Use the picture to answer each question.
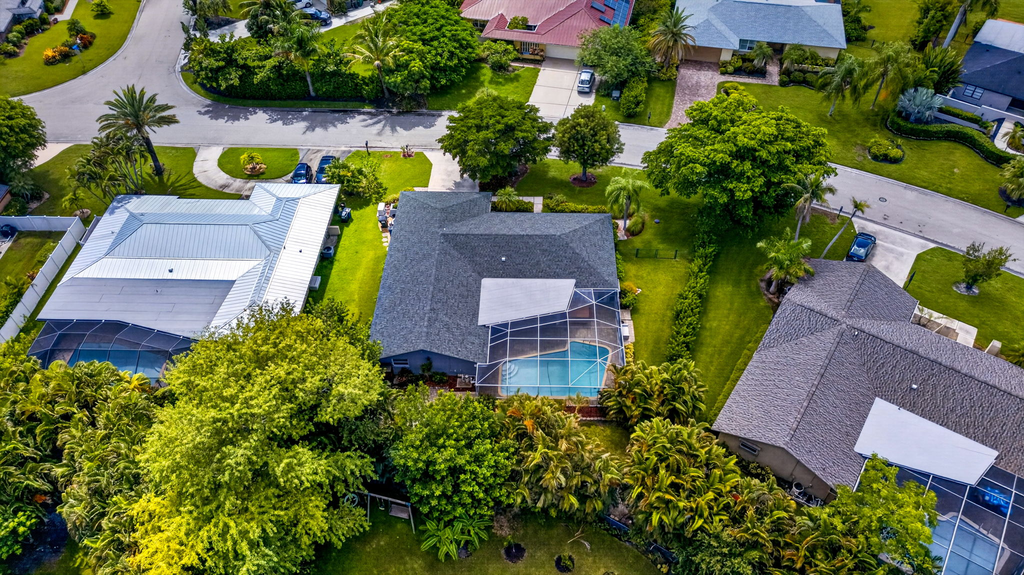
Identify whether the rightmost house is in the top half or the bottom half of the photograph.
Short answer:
top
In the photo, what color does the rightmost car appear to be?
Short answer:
blue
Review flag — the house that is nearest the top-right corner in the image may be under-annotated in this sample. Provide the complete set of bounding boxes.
[956,18,1024,116]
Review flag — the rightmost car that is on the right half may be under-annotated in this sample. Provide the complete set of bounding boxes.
[846,229,877,263]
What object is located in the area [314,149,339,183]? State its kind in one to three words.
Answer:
car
